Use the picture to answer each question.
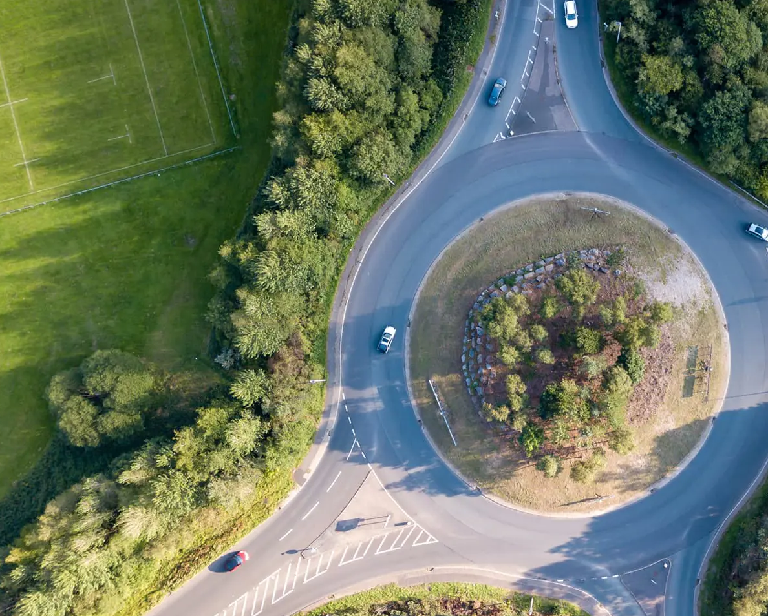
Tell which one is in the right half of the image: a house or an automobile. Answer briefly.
automobile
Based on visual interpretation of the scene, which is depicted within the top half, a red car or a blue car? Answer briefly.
blue car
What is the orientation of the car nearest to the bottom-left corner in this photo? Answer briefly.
at an angle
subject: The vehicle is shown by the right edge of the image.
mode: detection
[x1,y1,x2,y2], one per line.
[744,221,768,242]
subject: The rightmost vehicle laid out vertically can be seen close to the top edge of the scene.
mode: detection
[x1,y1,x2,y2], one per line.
[564,0,579,30]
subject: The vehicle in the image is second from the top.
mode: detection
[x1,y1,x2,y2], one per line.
[485,78,509,108]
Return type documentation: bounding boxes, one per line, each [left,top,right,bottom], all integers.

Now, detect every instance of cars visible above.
[485,78,509,108]
[744,221,768,242]
[564,0,579,30]
[222,548,249,573]
[376,325,397,354]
